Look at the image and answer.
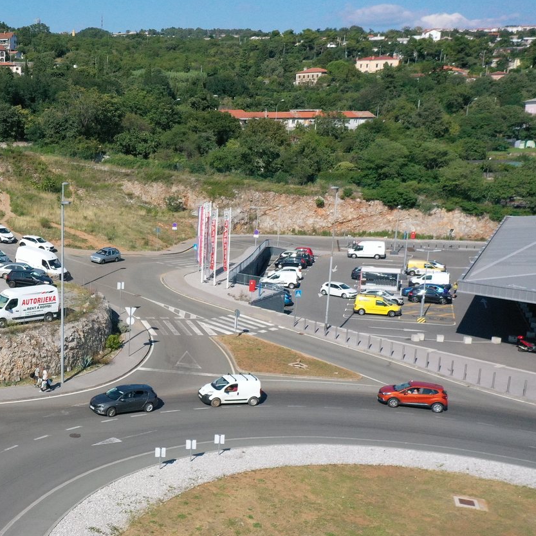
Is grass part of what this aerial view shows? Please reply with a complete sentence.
Yes, grass shows up in the scene.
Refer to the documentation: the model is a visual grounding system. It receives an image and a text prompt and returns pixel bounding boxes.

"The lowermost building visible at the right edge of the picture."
[454,215,536,311]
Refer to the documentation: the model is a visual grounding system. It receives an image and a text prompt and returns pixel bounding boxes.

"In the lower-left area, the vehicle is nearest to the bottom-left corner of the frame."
[91,384,161,416]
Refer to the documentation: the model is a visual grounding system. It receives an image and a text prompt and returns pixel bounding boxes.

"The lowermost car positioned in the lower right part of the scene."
[379,381,452,412]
